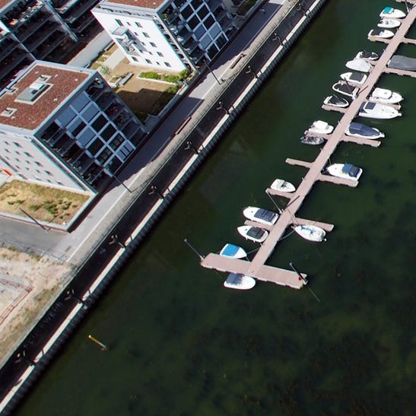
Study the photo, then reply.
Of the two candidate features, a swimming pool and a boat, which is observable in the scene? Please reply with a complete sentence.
It is a boat that can be seen here.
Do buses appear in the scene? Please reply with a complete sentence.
No, there's no bus here.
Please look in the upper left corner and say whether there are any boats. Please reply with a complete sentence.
No, the scene shows no boat in the upper left corner.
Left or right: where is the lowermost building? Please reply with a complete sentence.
The lowermost building is on the left side of the image.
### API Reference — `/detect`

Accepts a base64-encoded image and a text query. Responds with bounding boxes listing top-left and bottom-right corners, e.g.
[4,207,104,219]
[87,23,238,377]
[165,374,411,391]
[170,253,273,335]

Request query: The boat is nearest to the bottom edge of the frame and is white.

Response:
[221,279,258,292]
